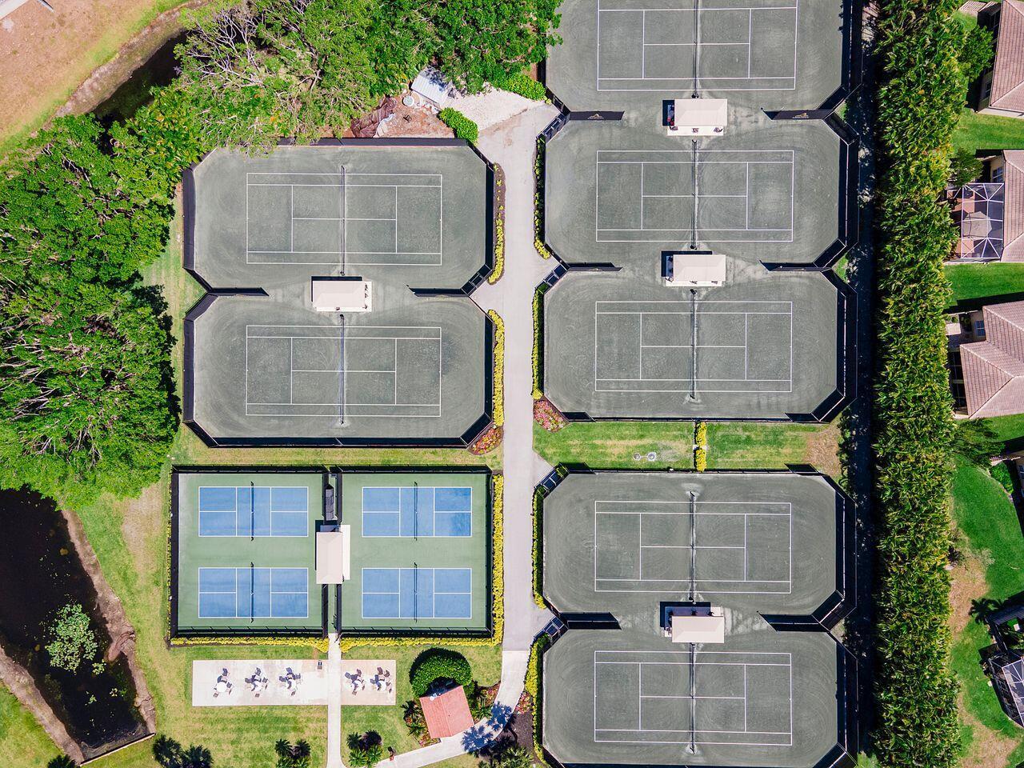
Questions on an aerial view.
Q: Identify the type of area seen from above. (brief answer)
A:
sports ground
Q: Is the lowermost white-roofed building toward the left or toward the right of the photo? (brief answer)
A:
right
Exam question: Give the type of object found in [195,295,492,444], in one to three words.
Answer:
tennis court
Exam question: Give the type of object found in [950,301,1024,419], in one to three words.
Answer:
house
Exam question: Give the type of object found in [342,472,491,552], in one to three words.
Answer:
sports court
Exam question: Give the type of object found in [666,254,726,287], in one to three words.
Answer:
building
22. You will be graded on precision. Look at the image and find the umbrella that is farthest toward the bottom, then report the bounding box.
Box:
[963,212,990,238]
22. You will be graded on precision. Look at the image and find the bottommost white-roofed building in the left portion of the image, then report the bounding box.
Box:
[316,525,350,584]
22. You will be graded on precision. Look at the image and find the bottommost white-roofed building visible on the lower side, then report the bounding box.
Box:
[665,606,724,643]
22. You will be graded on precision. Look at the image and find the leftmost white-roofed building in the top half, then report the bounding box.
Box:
[313,280,372,312]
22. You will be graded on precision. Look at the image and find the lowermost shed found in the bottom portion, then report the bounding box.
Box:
[420,679,474,737]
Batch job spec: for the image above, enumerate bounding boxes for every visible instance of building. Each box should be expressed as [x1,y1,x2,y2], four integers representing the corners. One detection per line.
[665,606,724,643]
[328,487,338,523]
[950,301,1024,419]
[990,149,1024,262]
[412,71,453,111]
[666,254,726,287]
[313,280,372,312]
[420,679,474,737]
[316,525,350,584]
[668,99,727,135]
[980,0,1024,118]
